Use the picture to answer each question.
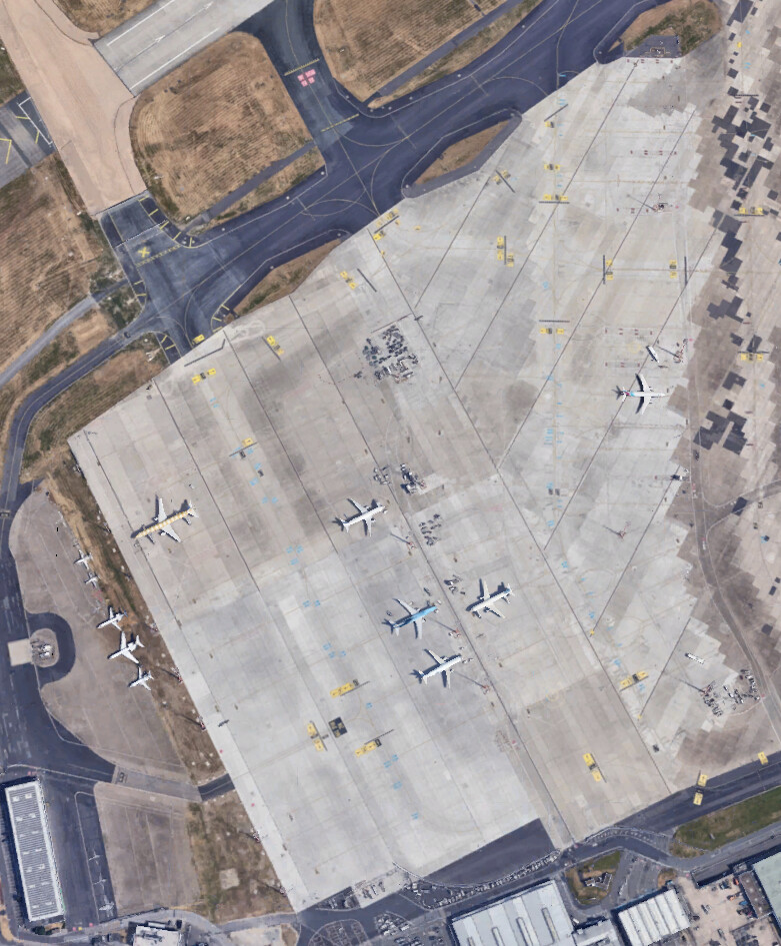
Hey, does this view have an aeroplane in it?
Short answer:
Yes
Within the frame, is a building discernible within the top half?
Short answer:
No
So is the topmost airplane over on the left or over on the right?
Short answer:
right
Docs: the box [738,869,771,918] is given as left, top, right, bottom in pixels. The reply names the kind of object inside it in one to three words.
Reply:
building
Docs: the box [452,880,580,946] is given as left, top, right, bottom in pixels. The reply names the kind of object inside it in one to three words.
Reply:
hangar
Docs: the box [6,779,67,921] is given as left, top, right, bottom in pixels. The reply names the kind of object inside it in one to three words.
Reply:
hangar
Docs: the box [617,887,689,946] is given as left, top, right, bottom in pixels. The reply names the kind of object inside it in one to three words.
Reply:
building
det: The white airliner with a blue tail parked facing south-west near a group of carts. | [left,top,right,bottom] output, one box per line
[471,577,515,619]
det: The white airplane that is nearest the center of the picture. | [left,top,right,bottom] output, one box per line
[339,498,385,539]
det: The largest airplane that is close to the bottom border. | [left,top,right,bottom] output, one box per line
[99,896,116,916]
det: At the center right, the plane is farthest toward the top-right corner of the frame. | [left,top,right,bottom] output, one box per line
[621,372,665,416]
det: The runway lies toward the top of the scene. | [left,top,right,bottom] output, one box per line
[94,0,273,96]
